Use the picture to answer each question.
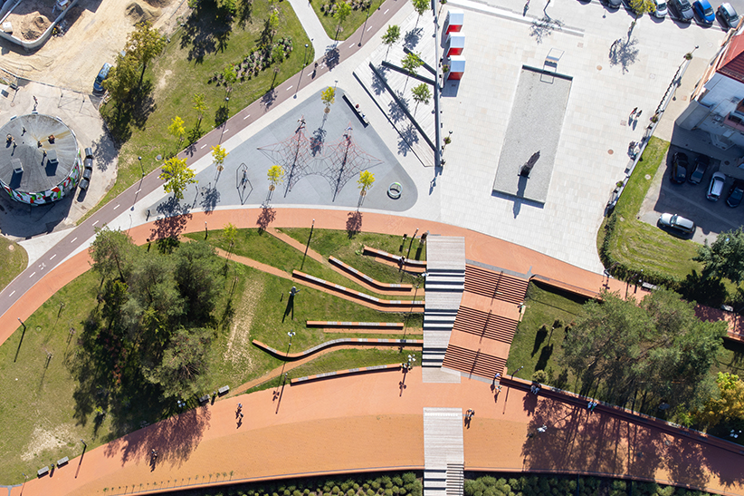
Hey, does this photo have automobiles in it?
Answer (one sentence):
Yes, an automobile is visible in the scene.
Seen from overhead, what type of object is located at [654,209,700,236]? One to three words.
car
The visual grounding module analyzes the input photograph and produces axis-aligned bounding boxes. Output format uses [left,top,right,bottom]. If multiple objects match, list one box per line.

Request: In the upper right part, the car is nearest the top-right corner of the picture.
[716,0,742,30]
